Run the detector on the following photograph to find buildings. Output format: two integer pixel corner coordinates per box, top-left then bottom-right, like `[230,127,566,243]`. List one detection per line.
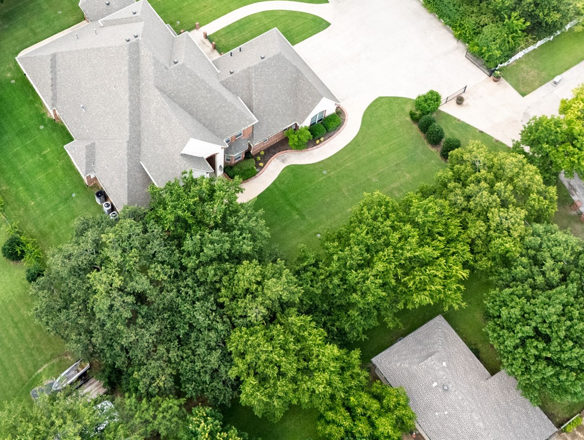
[14,0,342,235]
[369,314,560,440]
